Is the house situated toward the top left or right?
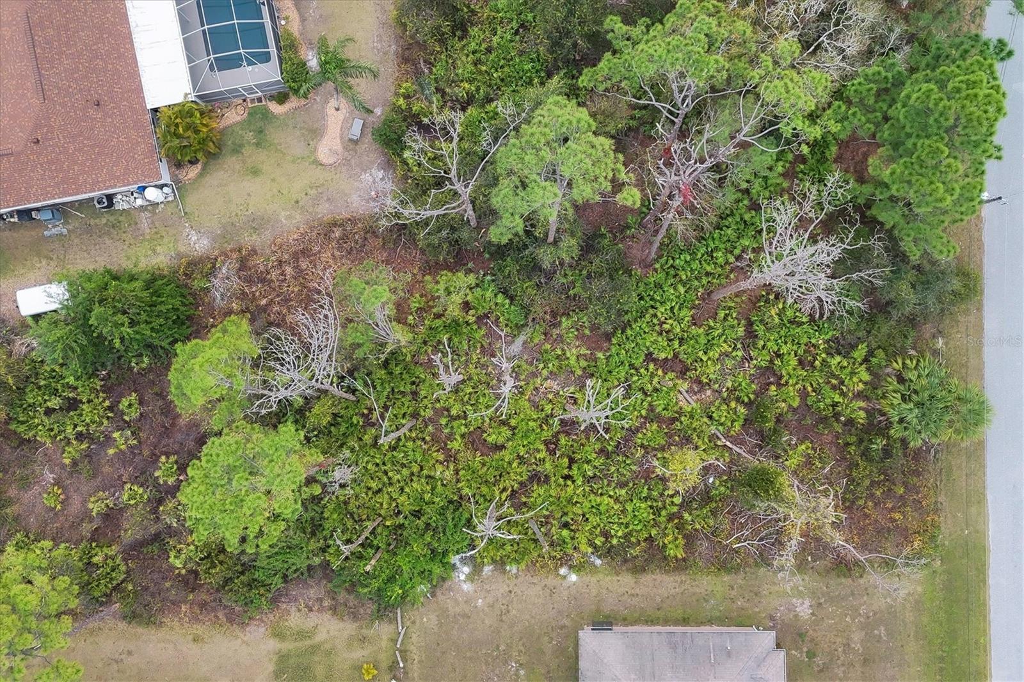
left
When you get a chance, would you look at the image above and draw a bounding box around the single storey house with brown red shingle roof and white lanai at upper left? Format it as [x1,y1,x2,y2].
[0,0,210,215]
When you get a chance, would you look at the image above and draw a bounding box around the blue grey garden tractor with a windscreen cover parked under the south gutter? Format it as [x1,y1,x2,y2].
[37,206,63,224]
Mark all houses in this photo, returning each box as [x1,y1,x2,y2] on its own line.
[577,612,788,682]
[0,0,210,215]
